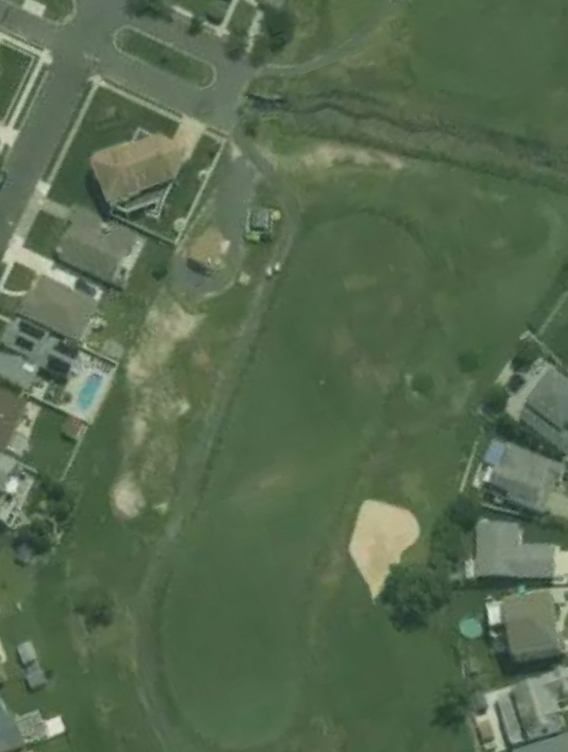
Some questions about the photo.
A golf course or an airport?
golf course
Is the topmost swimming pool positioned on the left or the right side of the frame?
left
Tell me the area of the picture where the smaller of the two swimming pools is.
bottom right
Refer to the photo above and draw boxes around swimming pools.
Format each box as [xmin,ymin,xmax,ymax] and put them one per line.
[459,615,483,639]
[76,369,107,411]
